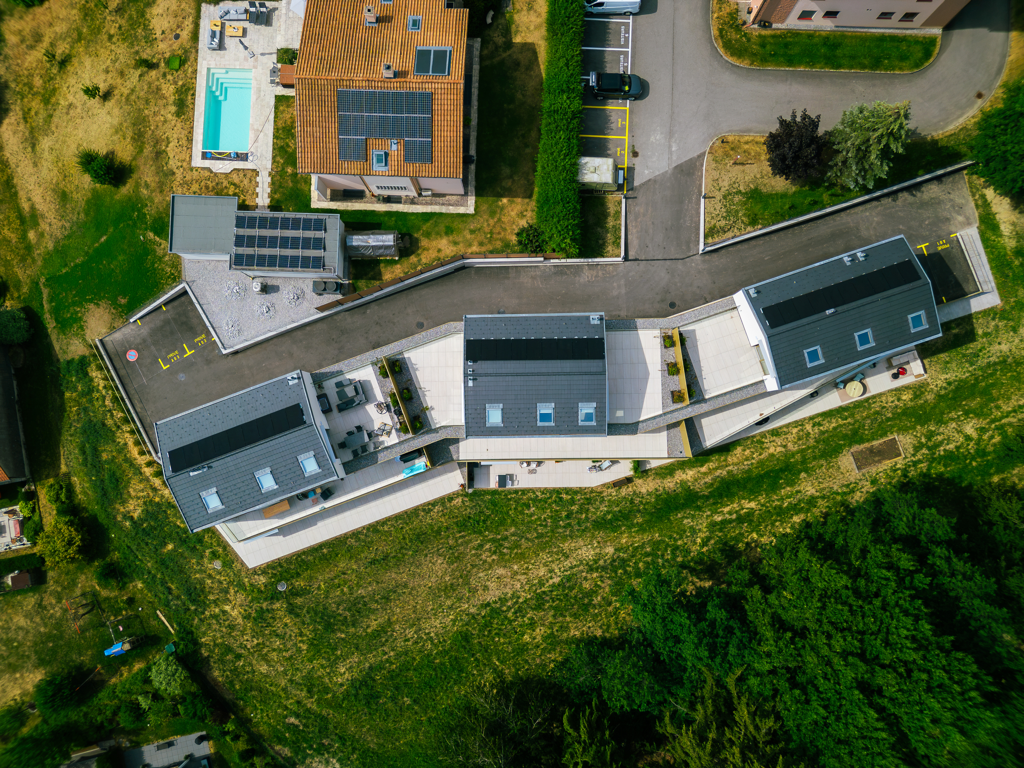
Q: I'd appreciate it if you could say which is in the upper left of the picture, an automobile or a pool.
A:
pool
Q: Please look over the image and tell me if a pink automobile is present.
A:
No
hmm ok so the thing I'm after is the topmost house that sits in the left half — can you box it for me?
[293,0,470,200]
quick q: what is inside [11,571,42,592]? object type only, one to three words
shed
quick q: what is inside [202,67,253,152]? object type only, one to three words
swimming pool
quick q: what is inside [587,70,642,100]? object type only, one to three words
car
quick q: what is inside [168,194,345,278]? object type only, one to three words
building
